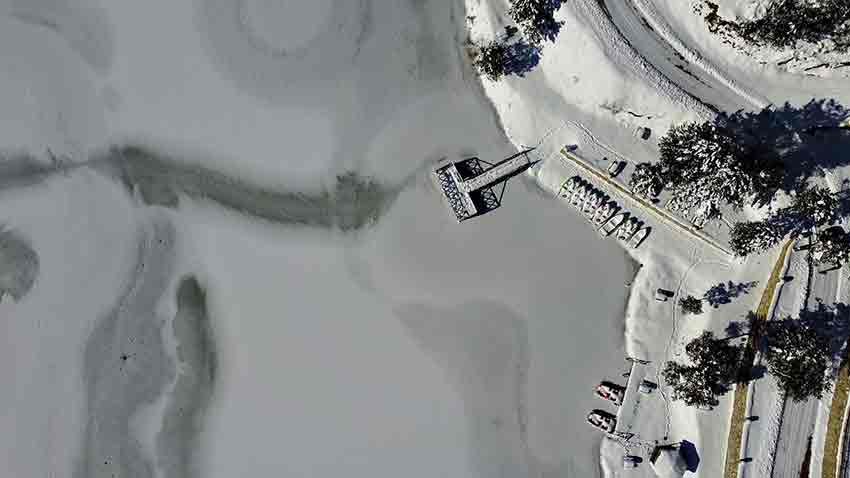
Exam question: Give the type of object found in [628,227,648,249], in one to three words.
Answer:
boat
